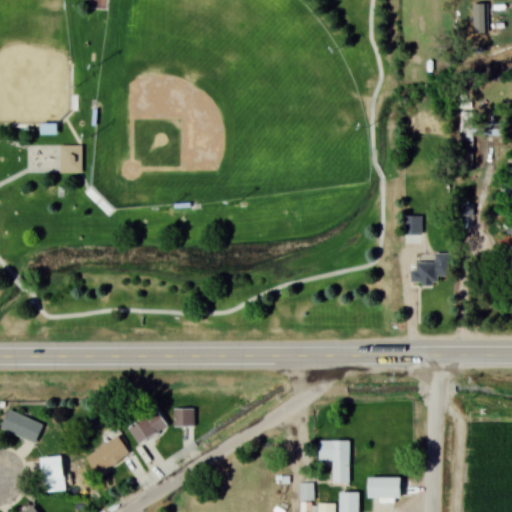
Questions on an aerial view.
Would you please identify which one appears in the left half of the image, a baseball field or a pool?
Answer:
baseball field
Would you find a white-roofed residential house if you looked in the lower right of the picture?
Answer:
Yes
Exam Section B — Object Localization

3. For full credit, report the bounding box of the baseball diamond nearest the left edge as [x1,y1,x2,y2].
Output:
[0,42,74,124]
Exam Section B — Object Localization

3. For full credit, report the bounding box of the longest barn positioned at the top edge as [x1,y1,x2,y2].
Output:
[474,2,489,34]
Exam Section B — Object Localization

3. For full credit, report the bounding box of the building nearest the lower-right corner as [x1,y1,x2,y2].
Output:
[367,478,401,505]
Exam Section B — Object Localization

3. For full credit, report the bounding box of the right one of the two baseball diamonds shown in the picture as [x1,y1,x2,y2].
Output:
[90,0,370,209]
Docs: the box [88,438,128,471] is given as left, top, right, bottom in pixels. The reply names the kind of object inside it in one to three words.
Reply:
house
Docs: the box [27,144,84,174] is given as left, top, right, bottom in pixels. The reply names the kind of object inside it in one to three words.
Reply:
playground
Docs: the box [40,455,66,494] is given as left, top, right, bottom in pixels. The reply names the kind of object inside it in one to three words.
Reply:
house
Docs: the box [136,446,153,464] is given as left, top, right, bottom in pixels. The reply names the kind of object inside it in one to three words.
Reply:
camper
